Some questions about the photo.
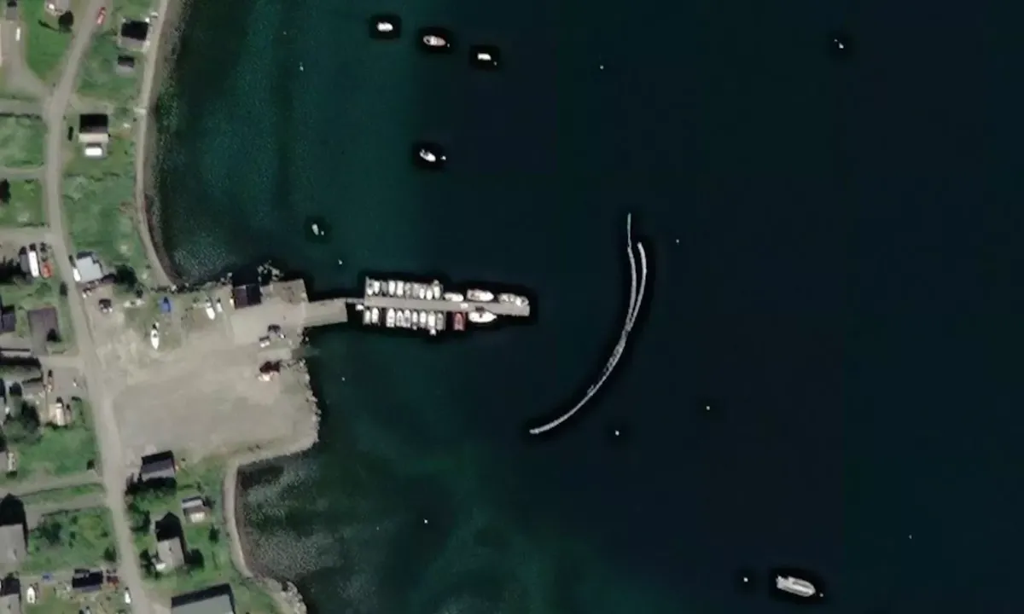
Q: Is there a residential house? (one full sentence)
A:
Yes, you can see a residential house in this photo.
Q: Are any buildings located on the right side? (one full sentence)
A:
No, looking on the right side, there is no building.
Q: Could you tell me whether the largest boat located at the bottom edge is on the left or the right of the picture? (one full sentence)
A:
The largest boat located at the bottom edge is on the right side of the image.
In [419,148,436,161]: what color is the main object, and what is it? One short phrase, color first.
white boat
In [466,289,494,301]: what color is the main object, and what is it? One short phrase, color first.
white boat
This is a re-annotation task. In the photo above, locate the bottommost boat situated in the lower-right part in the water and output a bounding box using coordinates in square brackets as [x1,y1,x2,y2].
[774,575,815,596]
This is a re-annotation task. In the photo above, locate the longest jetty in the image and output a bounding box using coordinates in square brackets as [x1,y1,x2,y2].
[365,276,530,329]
